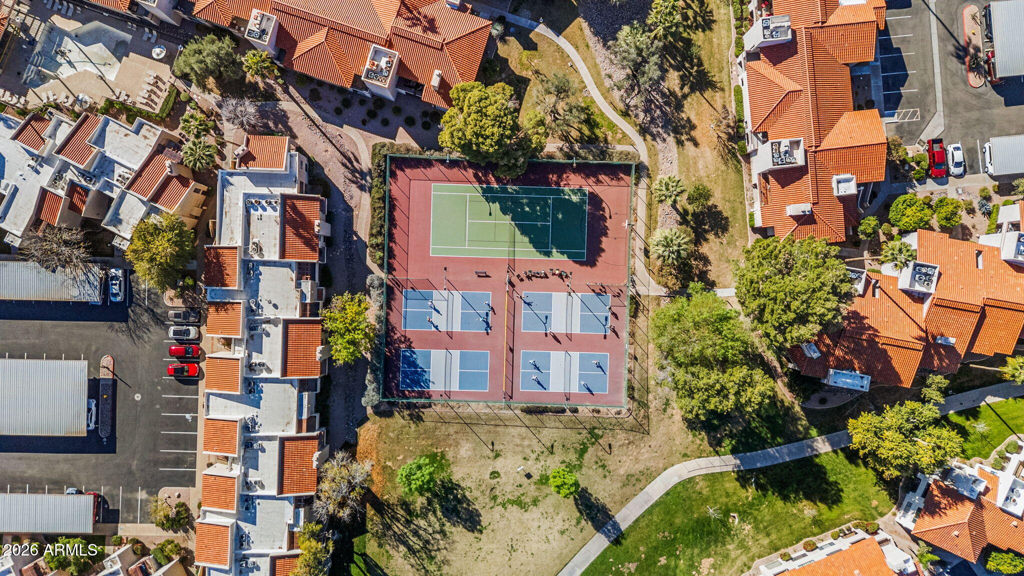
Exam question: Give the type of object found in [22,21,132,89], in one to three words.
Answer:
swimming pool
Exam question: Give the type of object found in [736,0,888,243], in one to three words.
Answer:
building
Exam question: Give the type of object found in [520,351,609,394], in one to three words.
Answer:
sports court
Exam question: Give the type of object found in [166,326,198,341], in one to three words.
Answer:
car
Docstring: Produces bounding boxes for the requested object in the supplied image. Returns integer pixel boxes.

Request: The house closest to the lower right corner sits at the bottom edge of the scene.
[888,437,1024,564]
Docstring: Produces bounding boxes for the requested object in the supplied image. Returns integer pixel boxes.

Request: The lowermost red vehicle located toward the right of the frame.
[930,137,949,177]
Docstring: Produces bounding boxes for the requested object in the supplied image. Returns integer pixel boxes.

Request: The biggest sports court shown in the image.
[384,157,633,404]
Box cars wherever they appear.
[166,344,200,359]
[166,326,198,341]
[949,143,967,175]
[166,309,199,324]
[105,269,123,302]
[88,400,96,431]
[165,363,198,378]
[64,488,79,494]
[983,4,992,39]
[983,141,992,174]
[985,49,1001,83]
[91,272,105,303]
